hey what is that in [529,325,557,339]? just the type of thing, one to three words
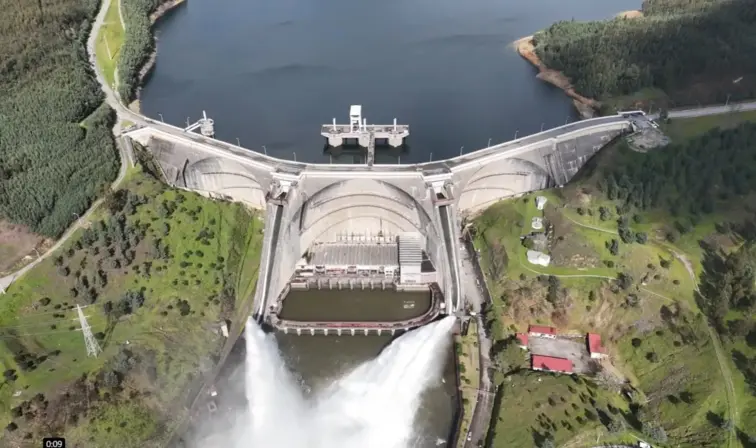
house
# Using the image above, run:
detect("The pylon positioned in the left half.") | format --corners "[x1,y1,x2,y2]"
[0,303,107,361]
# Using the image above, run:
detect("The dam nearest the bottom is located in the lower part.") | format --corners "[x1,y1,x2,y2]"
[277,286,439,340]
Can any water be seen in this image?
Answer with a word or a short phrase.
Yes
